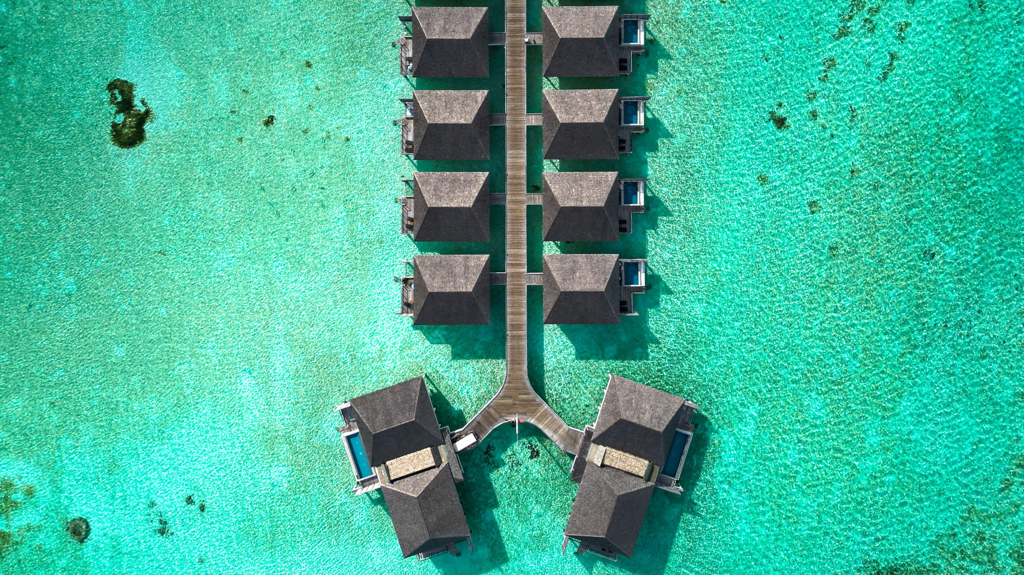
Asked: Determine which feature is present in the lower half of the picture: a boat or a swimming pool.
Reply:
swimming pool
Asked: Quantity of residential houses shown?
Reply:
ten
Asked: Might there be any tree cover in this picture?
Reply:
No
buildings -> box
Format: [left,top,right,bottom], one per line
[396,254,490,325]
[542,170,651,242]
[333,371,474,561]
[394,6,489,78]
[542,88,651,160]
[395,89,490,161]
[396,171,490,242]
[542,5,651,77]
[560,371,701,561]
[543,253,652,325]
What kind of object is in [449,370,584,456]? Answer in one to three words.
pier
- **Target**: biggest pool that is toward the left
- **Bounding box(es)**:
[344,428,376,479]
